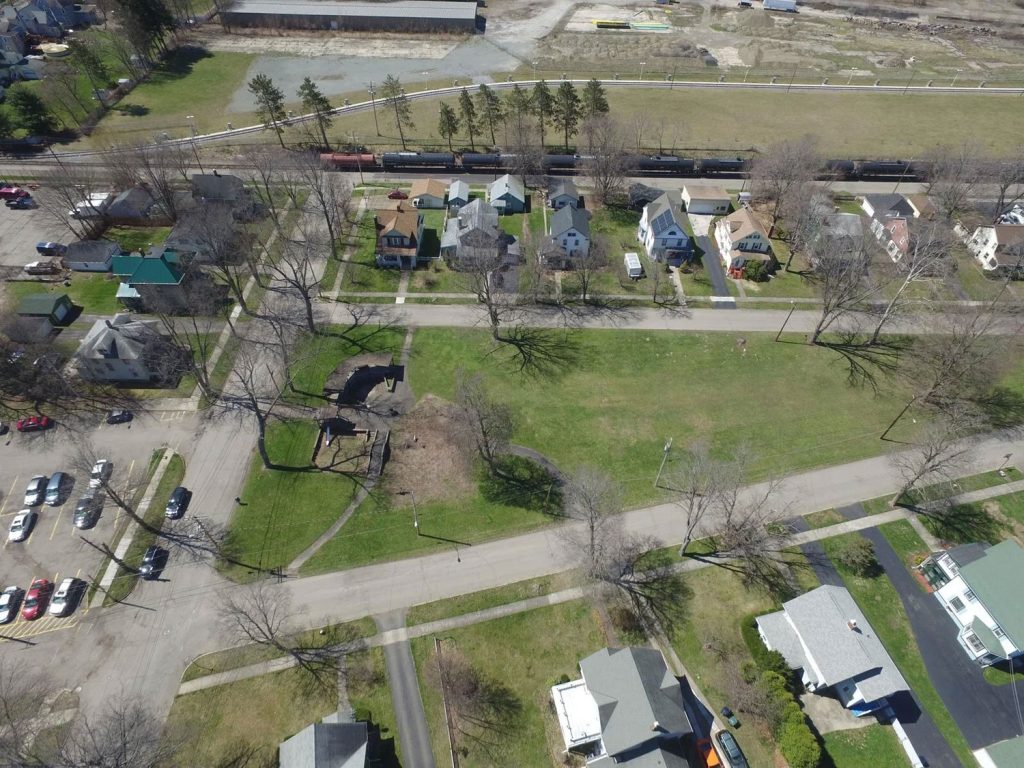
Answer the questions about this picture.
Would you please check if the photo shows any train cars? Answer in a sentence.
Yes, a train car can be made out from above.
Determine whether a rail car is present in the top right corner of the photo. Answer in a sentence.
Yes, there is a rail car in the top right corner of the photo.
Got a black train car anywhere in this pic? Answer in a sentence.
Yes, the picture does show a black train car.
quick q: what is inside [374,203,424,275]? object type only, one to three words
house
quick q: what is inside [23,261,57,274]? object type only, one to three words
vehicle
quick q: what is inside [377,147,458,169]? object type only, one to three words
rail car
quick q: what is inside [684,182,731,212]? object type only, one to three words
building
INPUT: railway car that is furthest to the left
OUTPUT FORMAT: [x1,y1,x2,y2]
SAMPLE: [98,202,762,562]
[317,146,378,169]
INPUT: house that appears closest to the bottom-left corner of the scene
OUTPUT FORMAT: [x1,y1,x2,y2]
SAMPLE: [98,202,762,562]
[278,711,380,768]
